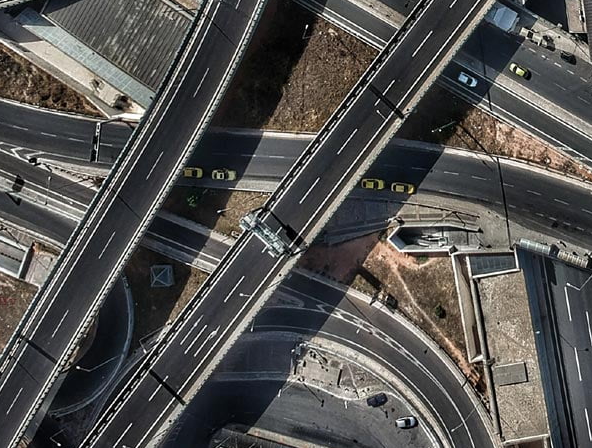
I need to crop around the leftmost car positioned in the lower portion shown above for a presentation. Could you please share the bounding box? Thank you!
[363,393,388,408]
